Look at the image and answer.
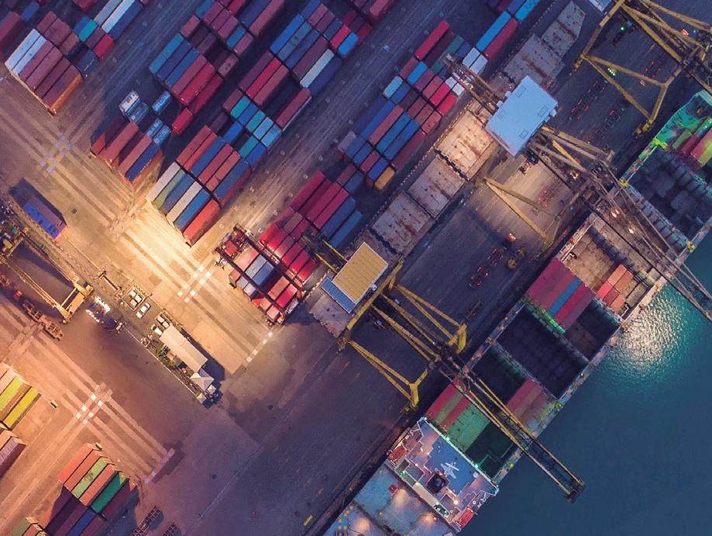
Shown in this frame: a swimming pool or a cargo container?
cargo container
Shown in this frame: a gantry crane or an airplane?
gantry crane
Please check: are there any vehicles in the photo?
Yes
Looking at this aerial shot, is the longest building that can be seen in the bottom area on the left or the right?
left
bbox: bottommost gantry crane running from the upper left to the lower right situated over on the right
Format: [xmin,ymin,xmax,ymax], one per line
[296,227,587,504]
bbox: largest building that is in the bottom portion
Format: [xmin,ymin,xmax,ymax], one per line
[159,325,207,373]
